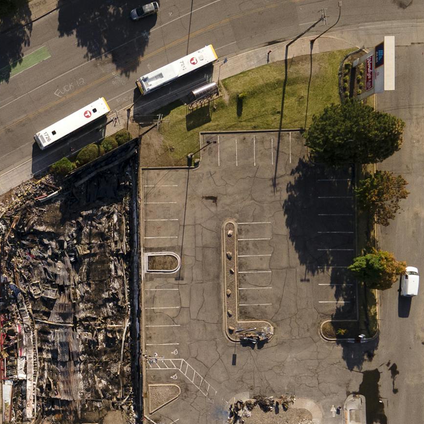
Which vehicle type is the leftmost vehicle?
bus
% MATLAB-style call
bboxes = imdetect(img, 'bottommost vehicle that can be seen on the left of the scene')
[33,93,115,152]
